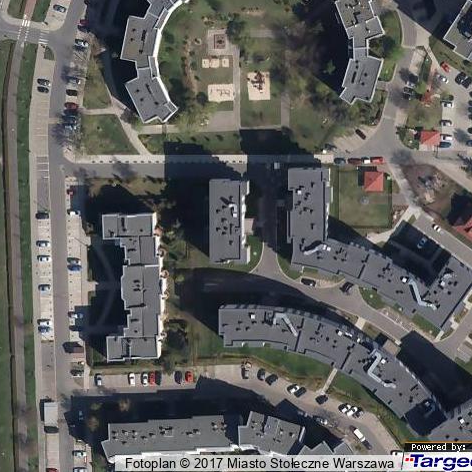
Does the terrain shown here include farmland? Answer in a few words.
No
